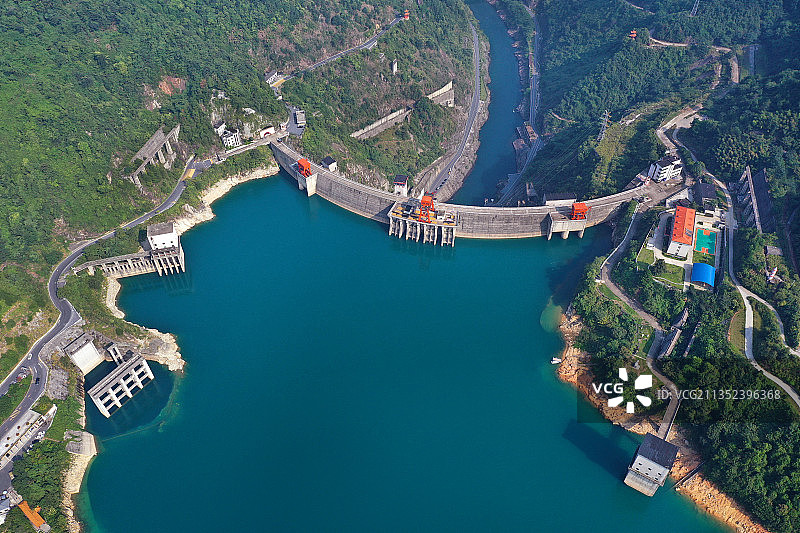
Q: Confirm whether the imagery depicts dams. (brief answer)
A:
Yes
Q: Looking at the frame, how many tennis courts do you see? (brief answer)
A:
0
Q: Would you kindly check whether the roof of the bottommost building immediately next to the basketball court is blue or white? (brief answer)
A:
blue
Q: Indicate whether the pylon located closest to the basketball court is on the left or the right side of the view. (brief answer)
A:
right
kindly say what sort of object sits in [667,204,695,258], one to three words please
building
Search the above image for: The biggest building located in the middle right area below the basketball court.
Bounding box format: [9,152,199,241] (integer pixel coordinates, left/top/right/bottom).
[688,264,714,293]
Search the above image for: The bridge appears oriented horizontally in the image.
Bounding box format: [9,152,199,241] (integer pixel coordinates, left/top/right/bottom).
[92,249,152,279]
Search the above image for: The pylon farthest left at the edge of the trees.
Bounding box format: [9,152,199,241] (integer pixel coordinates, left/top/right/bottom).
[597,114,617,152]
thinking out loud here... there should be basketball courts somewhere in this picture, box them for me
[695,228,718,256]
